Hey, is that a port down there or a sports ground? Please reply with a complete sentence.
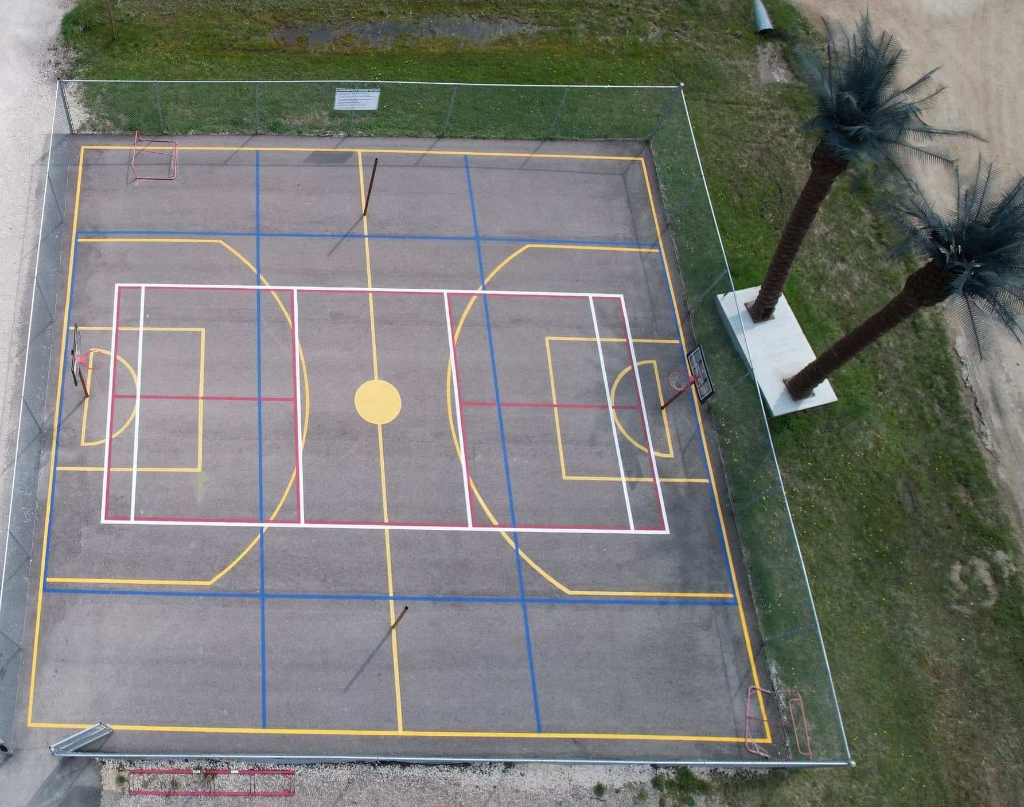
The area seen from above is a sports ground.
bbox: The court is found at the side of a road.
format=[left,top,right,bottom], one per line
[0,135,791,768]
